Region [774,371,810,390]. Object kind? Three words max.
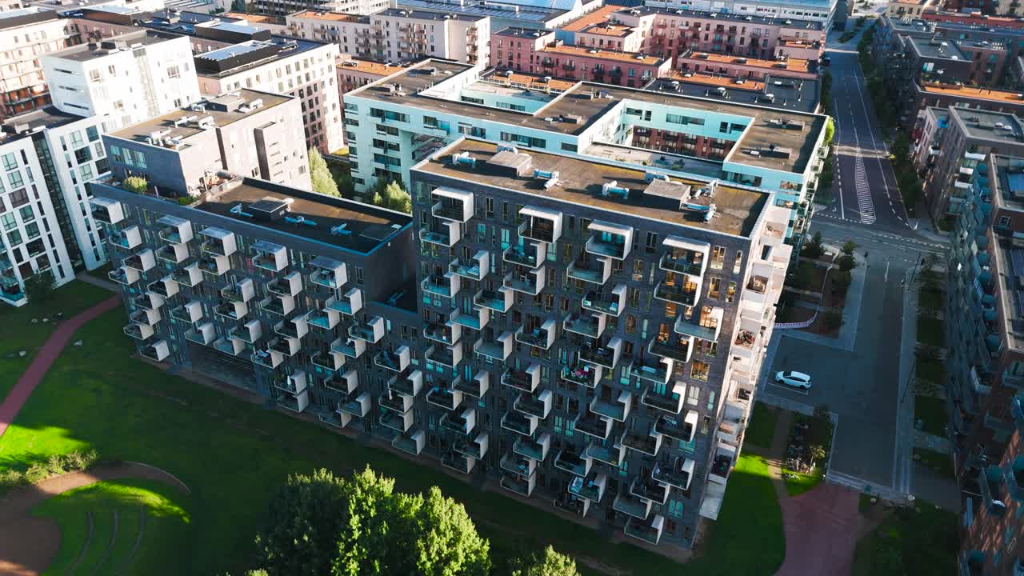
car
